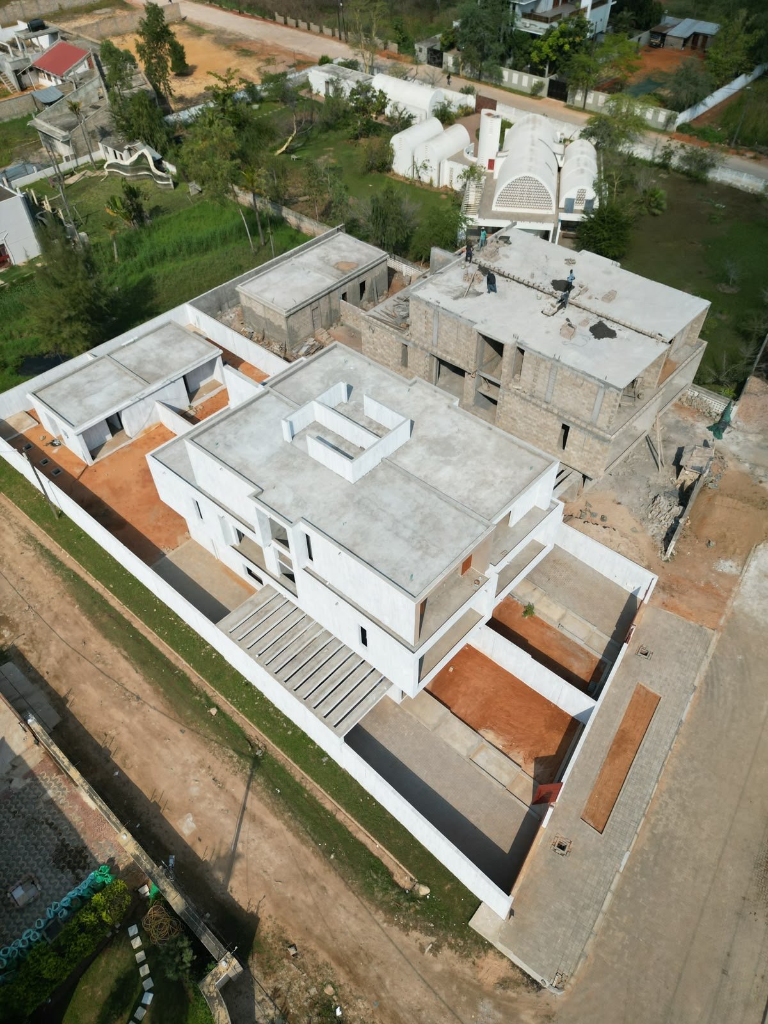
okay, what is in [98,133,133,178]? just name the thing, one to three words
house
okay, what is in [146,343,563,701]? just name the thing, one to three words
house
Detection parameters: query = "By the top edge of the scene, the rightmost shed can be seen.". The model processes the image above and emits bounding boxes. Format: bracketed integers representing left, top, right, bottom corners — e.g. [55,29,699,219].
[658,18,713,56]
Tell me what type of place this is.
residential area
